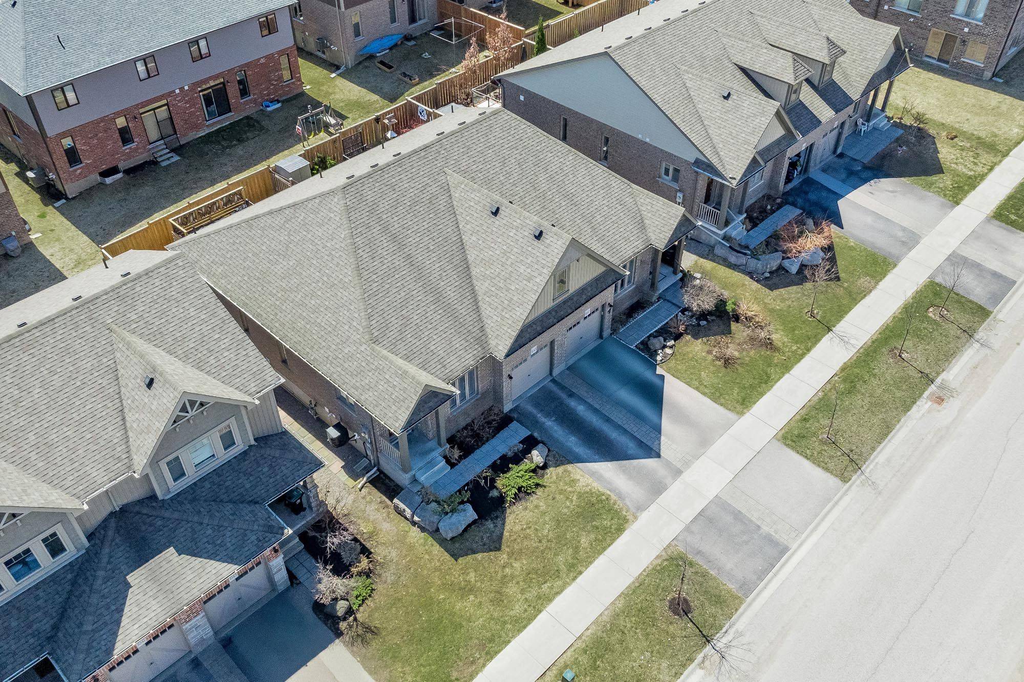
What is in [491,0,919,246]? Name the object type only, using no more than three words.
house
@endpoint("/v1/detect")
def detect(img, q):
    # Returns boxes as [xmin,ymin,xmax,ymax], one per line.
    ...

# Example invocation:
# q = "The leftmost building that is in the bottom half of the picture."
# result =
[0,250,329,682]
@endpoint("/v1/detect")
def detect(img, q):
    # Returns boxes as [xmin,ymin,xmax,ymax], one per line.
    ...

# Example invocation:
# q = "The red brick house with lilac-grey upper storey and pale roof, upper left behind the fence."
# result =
[0,0,305,195]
